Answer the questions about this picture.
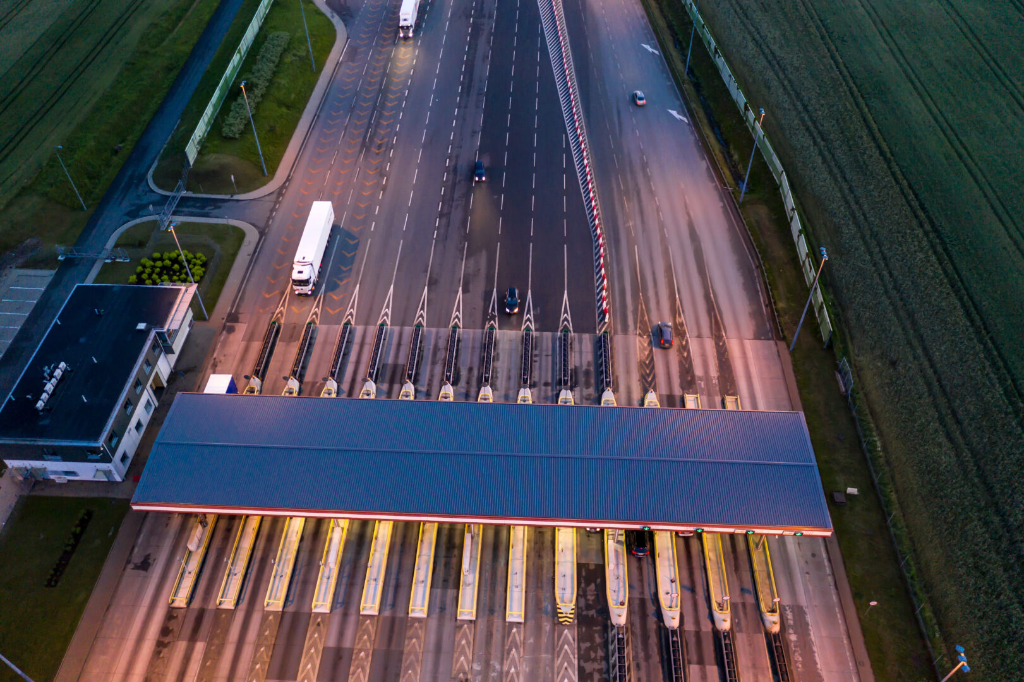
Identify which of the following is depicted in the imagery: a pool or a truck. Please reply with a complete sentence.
It is a truck that can be seen here.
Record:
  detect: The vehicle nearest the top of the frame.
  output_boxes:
[398,0,423,41]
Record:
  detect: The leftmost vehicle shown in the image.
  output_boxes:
[204,374,238,392]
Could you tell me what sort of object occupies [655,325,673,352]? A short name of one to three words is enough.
car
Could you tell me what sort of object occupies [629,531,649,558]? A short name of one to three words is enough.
car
